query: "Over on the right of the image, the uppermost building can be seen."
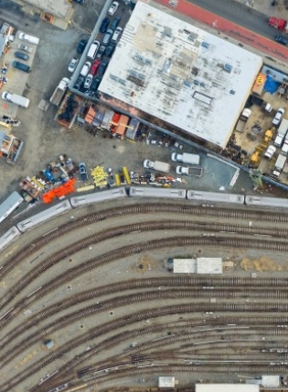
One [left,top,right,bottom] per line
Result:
[97,0,265,155]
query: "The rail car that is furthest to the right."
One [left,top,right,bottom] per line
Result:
[245,195,288,209]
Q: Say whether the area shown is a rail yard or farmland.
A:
rail yard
